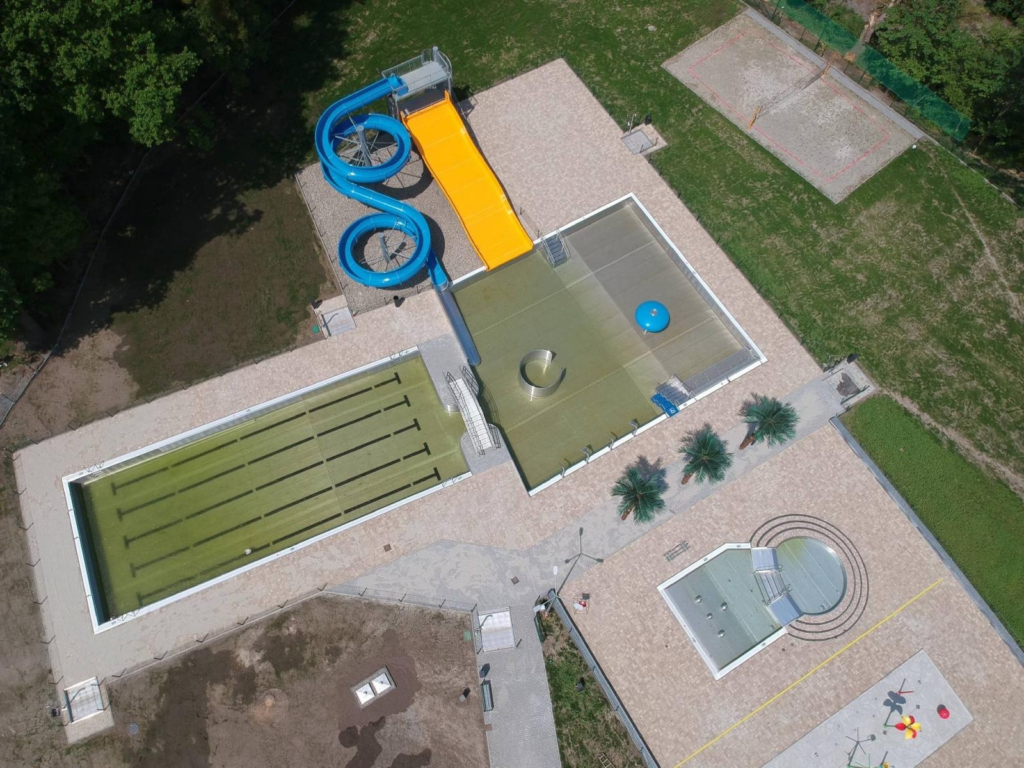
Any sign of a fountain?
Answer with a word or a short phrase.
Yes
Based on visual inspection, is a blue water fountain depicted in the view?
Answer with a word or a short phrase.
Yes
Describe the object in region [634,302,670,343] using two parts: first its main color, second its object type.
blue fountain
